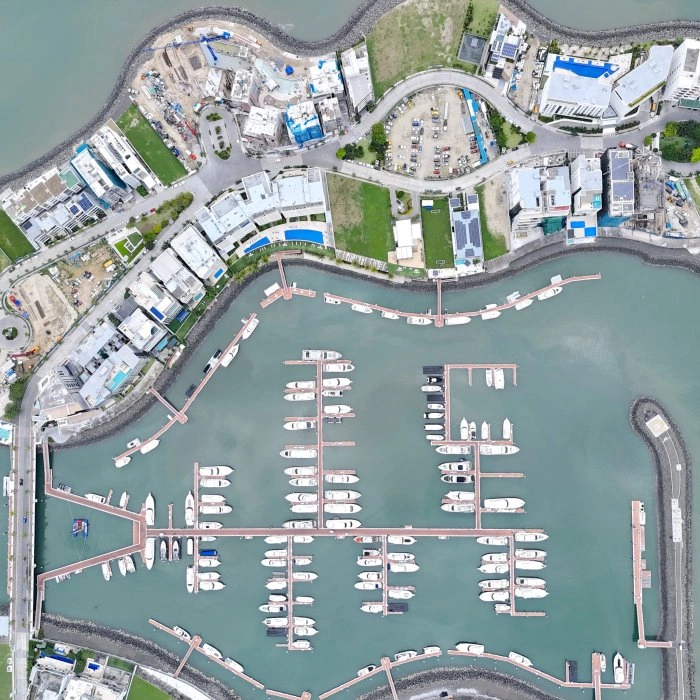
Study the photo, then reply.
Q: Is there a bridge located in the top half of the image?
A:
No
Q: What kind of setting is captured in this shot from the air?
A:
port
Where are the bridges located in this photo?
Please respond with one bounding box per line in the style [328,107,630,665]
[12,418,37,650]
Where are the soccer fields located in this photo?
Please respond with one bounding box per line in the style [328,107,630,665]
[422,196,456,269]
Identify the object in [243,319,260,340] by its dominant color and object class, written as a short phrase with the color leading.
white boat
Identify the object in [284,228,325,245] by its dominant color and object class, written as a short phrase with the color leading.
blue swimming pool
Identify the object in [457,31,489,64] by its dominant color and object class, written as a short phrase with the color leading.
gray sports court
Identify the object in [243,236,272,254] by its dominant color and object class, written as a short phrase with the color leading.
blue swimming pool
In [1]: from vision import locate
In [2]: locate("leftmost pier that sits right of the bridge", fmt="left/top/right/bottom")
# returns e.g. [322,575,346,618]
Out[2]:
[35,444,145,634]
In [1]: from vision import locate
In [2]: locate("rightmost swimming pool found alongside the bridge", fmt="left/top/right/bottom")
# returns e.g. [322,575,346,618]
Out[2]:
[40,651,76,664]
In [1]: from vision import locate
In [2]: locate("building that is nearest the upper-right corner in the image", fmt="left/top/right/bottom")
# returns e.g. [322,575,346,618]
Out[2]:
[665,38,700,102]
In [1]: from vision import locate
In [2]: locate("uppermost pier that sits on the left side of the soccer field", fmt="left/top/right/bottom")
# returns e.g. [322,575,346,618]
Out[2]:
[261,250,317,307]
